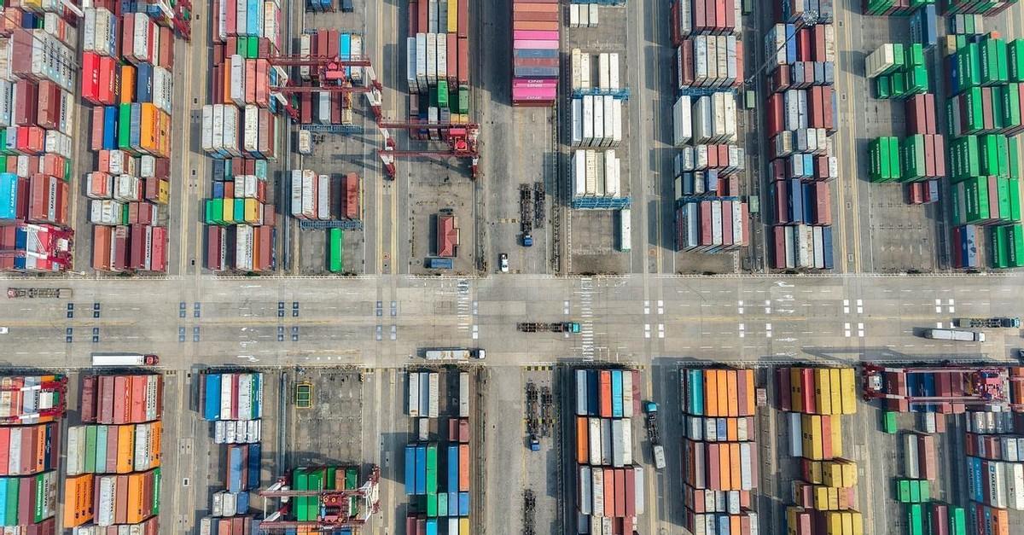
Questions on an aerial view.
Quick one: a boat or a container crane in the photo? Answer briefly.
container crane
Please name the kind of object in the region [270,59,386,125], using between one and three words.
container crane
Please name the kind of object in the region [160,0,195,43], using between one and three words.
container crane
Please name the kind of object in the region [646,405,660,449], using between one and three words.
vehicle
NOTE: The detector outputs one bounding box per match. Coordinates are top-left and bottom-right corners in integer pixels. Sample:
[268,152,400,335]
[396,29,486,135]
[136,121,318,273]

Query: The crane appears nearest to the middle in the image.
[377,120,479,183]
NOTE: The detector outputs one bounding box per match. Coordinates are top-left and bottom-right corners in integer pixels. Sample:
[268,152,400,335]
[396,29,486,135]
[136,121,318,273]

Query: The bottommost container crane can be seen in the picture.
[258,464,381,528]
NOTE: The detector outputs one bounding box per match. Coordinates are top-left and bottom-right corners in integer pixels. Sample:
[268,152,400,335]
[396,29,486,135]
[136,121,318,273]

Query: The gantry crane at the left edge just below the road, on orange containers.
[0,373,69,422]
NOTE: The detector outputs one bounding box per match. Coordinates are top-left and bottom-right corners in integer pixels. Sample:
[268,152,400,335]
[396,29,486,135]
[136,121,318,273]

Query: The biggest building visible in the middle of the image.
[437,215,460,257]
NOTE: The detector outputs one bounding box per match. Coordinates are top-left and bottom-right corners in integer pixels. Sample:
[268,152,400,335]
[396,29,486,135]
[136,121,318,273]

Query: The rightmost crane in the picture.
[960,373,1024,408]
